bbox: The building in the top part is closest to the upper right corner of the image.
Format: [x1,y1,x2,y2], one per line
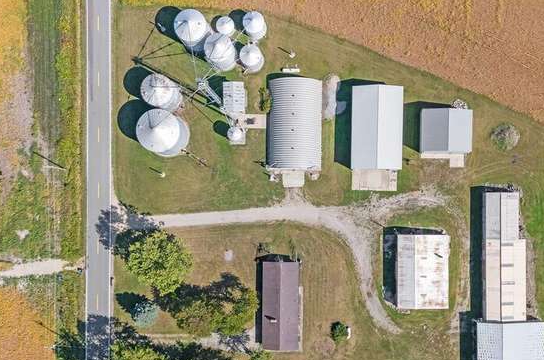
[418,107,473,153]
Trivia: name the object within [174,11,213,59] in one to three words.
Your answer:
silo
